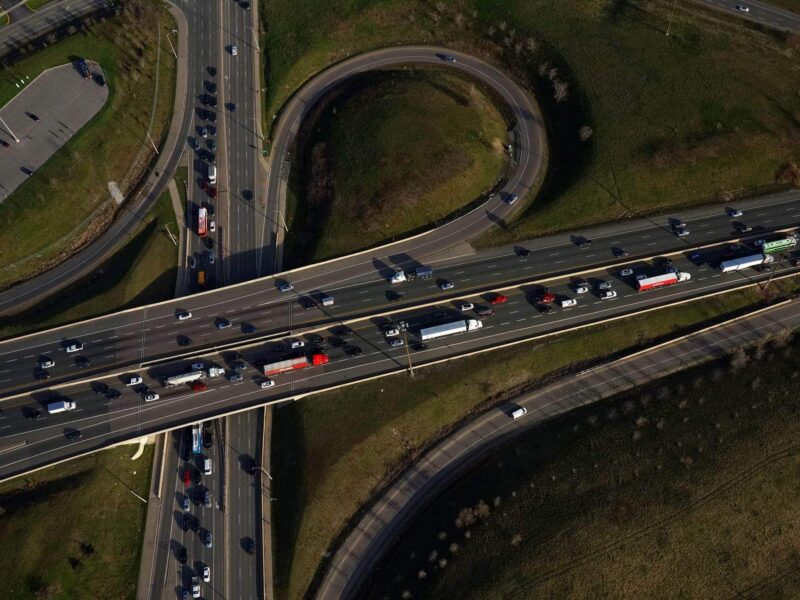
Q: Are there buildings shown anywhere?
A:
No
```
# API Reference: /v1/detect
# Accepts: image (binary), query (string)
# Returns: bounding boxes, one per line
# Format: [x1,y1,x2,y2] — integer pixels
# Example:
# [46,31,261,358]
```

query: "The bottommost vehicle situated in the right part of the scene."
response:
[509,406,527,419]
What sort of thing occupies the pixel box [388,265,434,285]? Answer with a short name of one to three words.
vehicle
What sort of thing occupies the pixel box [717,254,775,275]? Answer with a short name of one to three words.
truck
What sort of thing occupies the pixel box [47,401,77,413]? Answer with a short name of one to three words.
vehicle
